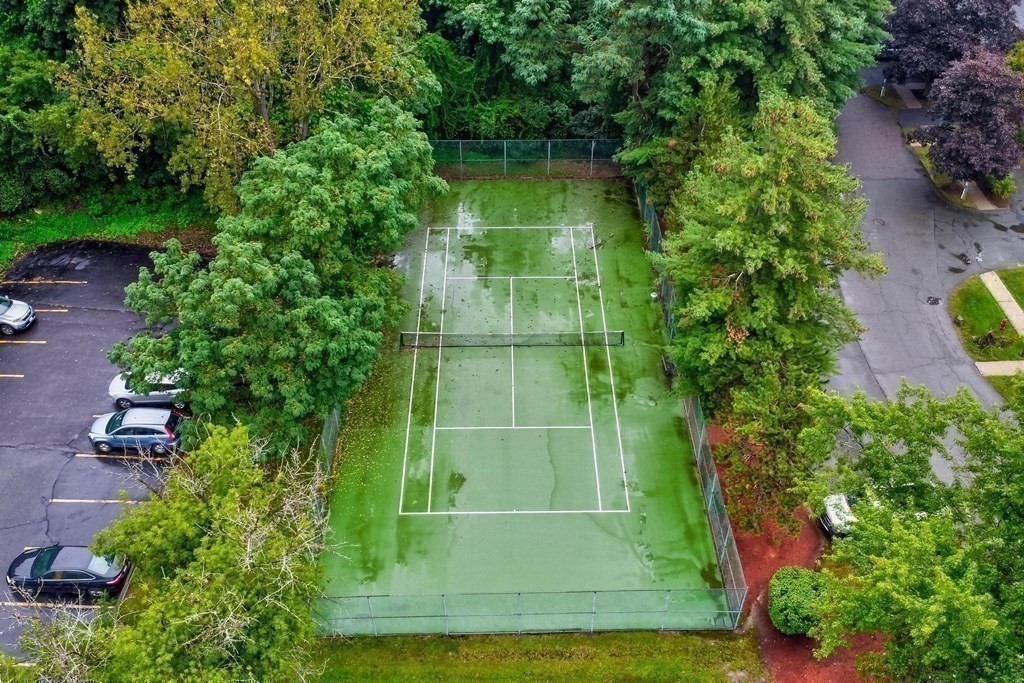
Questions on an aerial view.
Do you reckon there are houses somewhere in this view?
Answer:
No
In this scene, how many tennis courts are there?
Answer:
1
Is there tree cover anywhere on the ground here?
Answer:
Yes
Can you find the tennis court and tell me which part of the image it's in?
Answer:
center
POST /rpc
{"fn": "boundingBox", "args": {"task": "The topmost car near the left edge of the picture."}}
[0,297,39,336]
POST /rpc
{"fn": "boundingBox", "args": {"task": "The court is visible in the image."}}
[304,177,732,634]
